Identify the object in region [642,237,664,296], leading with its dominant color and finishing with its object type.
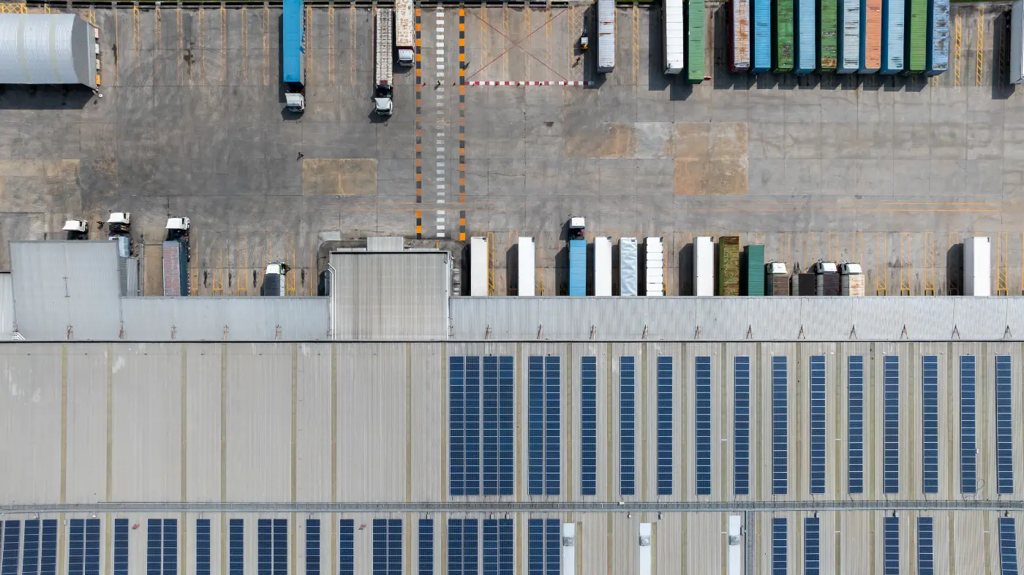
white trailer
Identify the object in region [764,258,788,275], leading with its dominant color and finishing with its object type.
white vehicle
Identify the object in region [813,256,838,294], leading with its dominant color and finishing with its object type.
white truck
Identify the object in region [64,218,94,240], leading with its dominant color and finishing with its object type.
white truck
